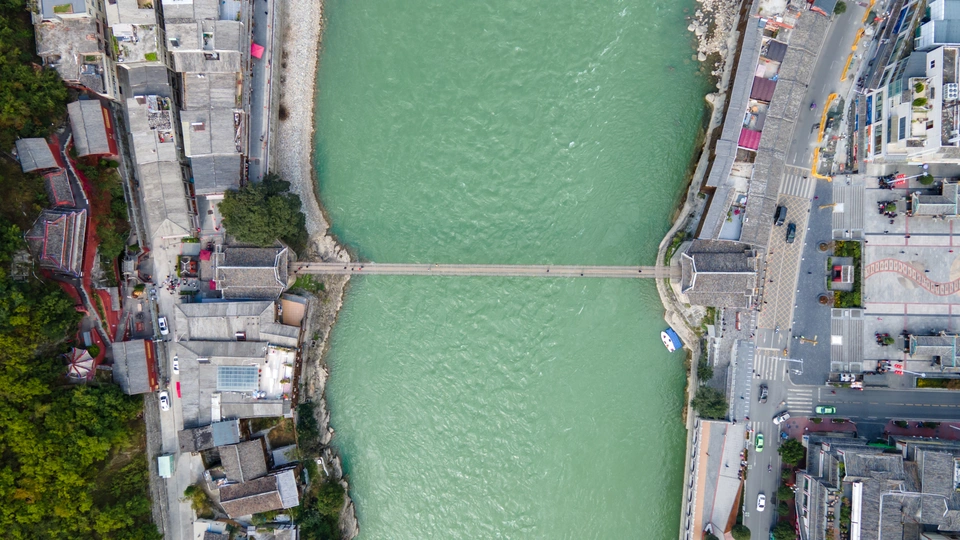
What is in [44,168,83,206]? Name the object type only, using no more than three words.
building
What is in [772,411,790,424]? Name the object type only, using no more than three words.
vehicle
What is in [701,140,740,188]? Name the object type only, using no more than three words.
house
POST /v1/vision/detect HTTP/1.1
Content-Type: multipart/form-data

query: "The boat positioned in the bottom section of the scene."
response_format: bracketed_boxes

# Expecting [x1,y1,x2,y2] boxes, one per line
[663,329,683,352]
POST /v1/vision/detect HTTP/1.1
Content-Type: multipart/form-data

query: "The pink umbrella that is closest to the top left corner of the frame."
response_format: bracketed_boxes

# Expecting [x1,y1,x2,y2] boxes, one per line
[249,43,264,58]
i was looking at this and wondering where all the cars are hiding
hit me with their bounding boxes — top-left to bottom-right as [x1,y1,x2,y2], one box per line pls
[785,223,796,243]
[758,384,769,403]
[160,391,170,410]
[774,204,786,224]
[772,411,790,424]
[159,316,170,335]
[755,433,764,452]
[756,492,765,512]
[149,285,158,301]
[839,374,856,382]
[815,405,835,414]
